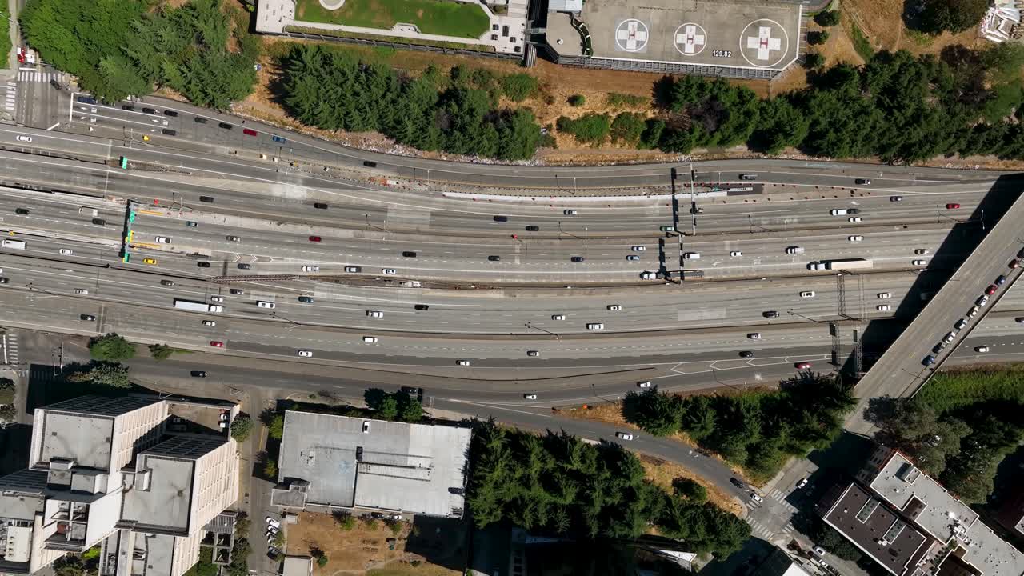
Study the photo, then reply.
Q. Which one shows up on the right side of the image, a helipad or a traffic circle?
helipad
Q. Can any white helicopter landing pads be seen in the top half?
Yes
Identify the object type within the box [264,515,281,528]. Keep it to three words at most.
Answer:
vehicle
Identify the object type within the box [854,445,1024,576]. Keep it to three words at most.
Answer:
building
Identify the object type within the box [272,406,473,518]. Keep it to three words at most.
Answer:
building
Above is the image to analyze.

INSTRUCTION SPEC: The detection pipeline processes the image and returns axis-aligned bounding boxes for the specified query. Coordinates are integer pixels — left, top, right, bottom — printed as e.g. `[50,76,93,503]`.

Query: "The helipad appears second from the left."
[674,23,706,56]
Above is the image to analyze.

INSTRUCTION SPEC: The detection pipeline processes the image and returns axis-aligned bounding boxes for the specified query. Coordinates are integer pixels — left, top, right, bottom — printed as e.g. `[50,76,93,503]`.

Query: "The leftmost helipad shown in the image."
[615,18,649,52]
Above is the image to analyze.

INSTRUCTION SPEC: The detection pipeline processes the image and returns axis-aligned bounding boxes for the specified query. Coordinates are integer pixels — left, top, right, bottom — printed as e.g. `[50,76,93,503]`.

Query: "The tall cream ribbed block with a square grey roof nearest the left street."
[30,393,165,472]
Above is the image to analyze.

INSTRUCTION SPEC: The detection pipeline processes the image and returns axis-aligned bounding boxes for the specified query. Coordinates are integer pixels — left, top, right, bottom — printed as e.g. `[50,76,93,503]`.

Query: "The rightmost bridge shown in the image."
[848,195,1024,402]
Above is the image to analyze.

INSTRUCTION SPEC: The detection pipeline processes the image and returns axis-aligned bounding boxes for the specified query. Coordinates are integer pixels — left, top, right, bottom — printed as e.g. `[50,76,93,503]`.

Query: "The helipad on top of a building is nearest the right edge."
[740,19,788,67]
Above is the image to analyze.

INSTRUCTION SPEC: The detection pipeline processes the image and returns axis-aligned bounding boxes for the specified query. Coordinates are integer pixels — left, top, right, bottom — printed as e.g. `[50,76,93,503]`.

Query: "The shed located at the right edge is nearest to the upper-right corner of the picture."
[981,0,1020,42]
